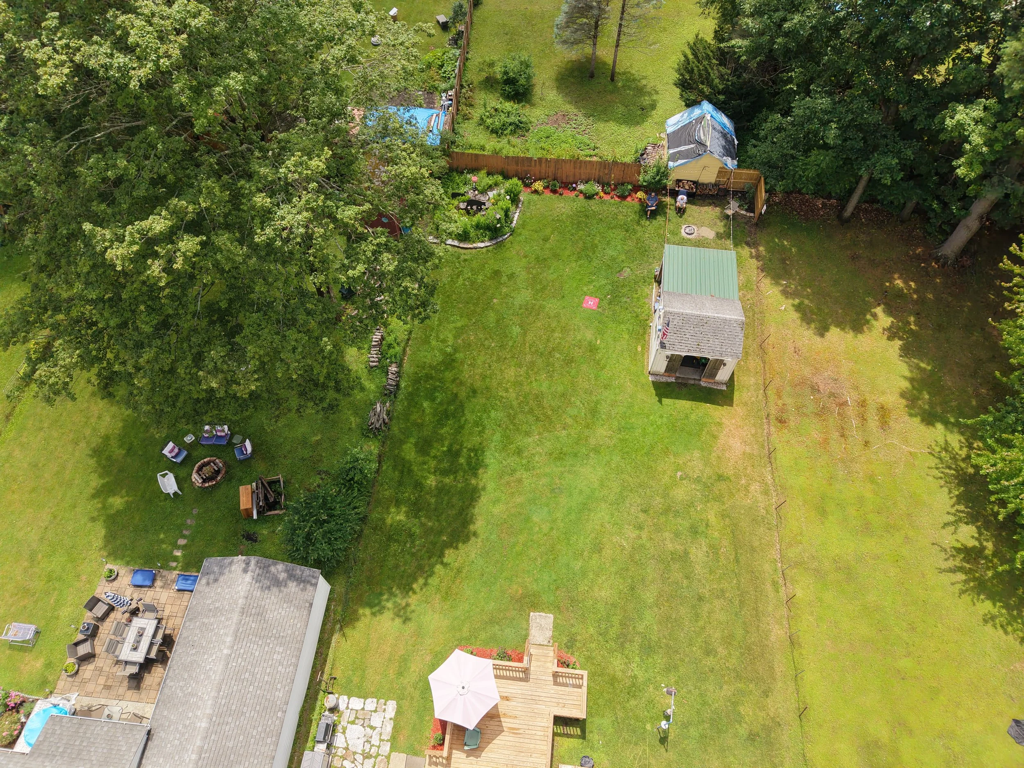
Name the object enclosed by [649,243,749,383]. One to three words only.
shed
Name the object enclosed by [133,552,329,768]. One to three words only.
house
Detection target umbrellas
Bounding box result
[103,592,141,607]
[428,649,500,730]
